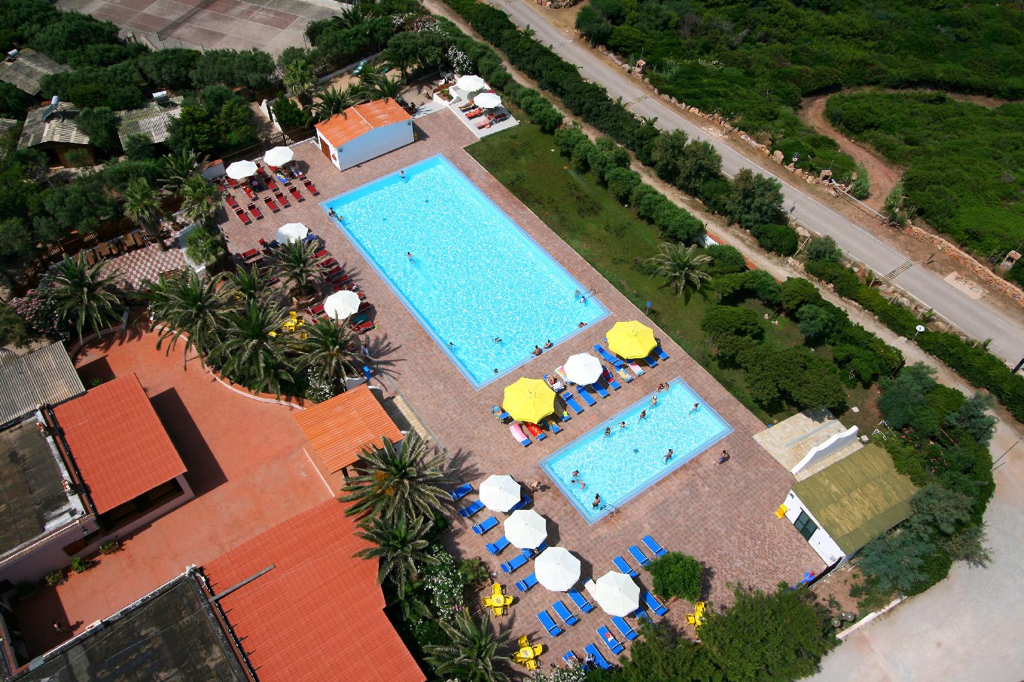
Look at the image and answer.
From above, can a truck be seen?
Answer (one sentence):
No, the scene contains no truck.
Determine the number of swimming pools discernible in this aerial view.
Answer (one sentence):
I count 2 swimming pools.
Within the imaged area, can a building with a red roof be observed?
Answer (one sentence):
Yes, the image includes a building with a red roof.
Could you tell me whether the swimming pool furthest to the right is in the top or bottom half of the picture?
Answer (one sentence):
It is in the bottom half that the swimming pool furthest to the right appears.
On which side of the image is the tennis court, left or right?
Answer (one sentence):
It is on the left.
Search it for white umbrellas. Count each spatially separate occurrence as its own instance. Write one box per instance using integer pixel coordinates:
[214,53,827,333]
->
[503,508,548,549]
[566,354,604,385]
[594,570,642,617]
[267,147,298,174]
[326,294,363,325]
[474,95,503,121]
[456,77,485,94]
[228,160,260,186]
[535,548,580,592]
[479,473,523,512]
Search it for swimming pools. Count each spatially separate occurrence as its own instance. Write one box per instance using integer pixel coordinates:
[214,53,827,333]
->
[327,158,602,381]
[550,386,722,515]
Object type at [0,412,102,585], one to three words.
building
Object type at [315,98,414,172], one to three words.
building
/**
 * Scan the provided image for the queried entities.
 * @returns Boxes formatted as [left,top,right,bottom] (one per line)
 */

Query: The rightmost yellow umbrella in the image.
[609,318,655,356]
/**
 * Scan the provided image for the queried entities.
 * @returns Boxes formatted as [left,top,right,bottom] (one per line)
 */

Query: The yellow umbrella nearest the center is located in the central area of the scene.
[503,376,556,420]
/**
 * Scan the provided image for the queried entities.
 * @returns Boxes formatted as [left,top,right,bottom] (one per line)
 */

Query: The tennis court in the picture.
[99,0,297,56]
